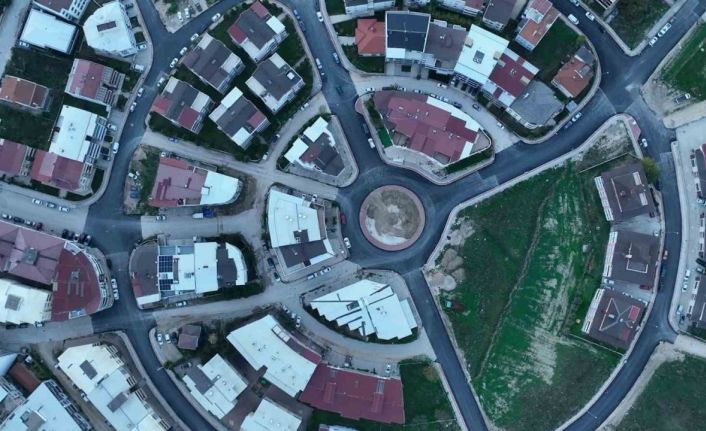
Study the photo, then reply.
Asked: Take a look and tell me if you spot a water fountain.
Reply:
No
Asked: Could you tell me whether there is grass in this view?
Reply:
Yes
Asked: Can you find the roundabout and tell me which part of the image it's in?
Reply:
center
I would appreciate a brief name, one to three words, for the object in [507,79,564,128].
house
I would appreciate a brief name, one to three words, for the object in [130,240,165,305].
house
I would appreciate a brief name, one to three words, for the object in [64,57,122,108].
building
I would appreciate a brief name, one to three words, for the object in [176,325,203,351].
shed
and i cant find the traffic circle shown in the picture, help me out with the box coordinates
[360,186,425,251]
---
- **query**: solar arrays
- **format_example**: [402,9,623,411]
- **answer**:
[163,255,176,272]
[163,279,176,290]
